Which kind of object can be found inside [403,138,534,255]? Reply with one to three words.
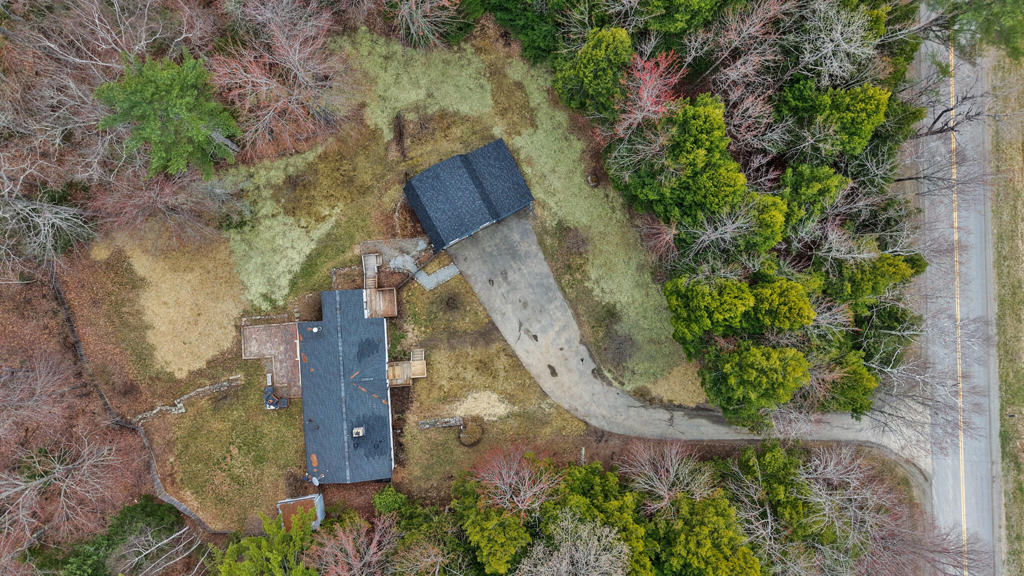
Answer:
building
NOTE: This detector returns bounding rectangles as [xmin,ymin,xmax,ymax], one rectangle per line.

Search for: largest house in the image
[297,290,395,483]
